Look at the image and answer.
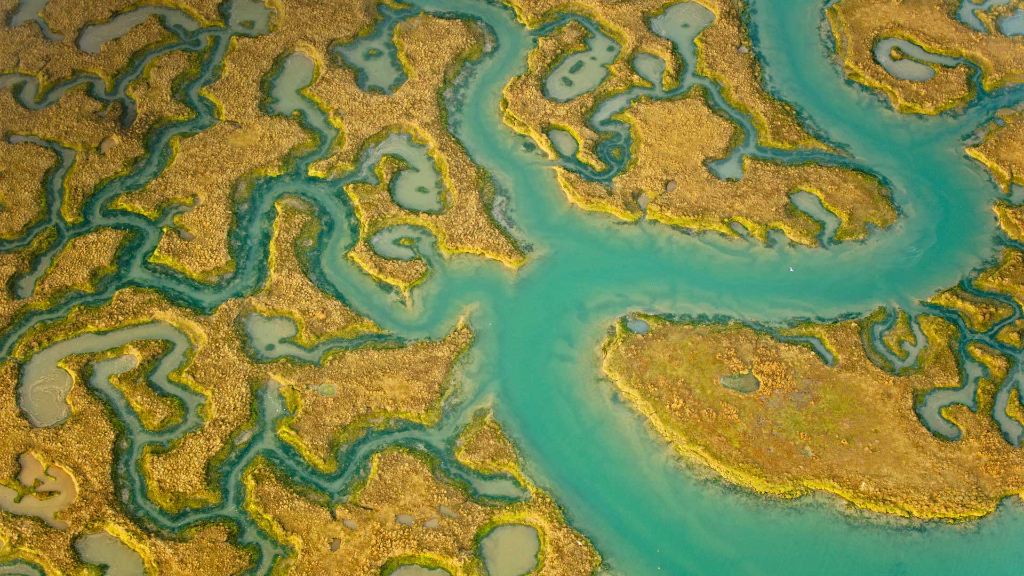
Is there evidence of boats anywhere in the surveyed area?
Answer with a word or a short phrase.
No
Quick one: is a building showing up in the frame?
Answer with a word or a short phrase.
No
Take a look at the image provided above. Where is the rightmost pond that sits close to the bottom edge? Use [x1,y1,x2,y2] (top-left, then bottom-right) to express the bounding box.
[479,525,540,576]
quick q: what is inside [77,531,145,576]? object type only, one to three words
pond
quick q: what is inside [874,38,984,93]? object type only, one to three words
pond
